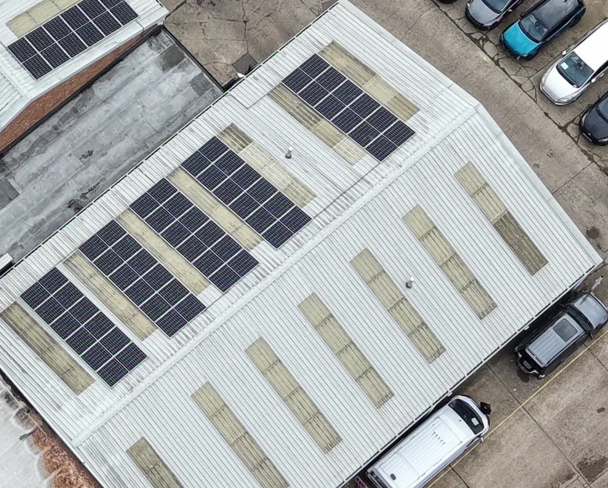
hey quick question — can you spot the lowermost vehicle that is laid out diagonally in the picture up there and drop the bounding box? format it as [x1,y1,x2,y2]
[373,396,494,488]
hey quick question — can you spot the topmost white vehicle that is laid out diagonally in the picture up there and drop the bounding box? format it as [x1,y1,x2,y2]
[542,29,608,104]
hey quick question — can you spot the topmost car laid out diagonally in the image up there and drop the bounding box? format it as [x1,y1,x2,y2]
[511,0,586,59]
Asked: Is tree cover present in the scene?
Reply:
No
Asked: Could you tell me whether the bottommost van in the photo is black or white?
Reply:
white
